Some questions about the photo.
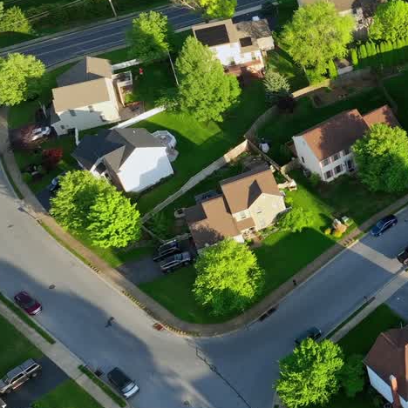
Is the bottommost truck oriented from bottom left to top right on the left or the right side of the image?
left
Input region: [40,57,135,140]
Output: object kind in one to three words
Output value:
house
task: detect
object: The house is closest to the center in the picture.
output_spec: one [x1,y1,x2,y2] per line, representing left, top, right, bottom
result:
[181,163,286,257]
